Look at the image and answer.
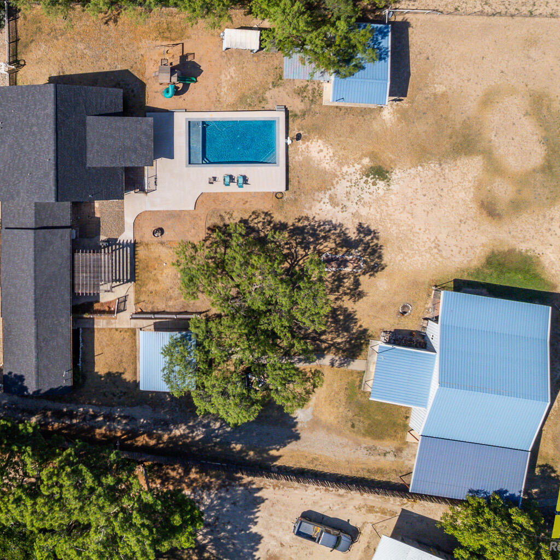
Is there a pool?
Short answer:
Yes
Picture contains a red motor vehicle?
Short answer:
No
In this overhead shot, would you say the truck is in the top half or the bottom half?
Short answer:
bottom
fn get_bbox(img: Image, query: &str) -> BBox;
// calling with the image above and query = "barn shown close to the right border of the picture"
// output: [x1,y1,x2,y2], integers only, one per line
[364,289,552,506]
